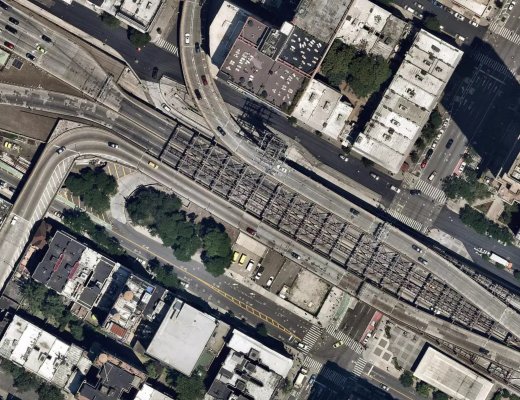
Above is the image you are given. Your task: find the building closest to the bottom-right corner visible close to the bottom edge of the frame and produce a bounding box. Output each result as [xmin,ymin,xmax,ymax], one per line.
[412,346,495,400]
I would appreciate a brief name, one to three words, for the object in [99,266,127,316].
building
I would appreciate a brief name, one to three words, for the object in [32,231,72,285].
building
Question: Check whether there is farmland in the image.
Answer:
No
